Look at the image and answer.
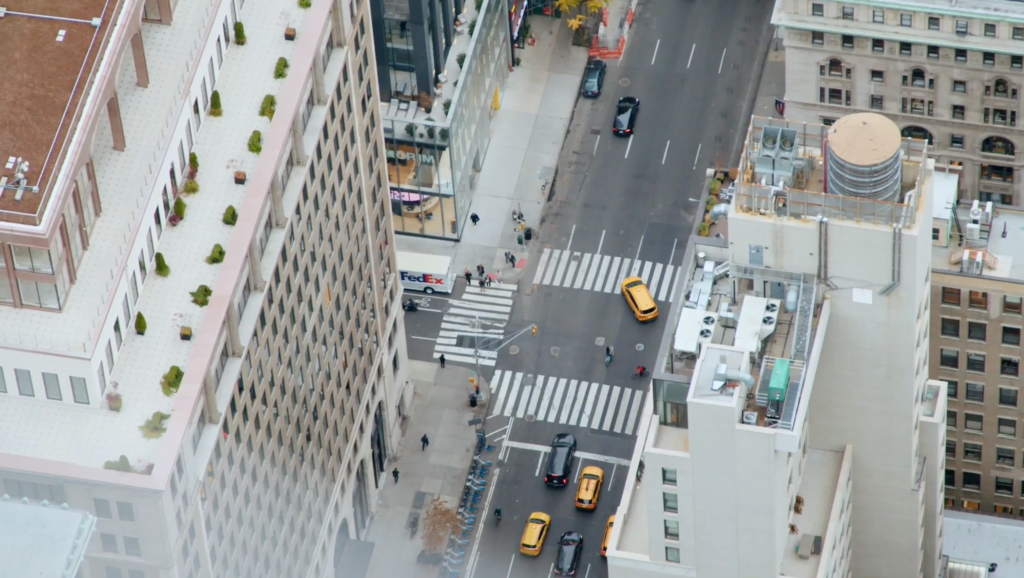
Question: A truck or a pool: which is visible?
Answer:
truck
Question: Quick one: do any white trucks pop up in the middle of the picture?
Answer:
Yes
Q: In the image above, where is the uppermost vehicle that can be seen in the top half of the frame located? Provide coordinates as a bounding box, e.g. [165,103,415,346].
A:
[582,52,614,95]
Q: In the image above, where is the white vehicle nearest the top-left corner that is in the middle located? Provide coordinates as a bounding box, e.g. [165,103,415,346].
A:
[397,249,457,294]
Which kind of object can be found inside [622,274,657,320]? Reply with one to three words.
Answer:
car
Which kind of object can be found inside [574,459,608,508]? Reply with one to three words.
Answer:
car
